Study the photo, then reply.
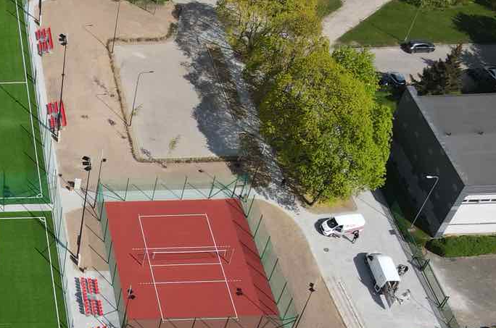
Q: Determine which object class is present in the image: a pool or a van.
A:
van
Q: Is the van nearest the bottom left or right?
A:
right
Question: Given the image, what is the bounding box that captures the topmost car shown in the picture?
[403,42,435,55]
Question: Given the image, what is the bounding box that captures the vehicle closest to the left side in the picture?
[322,214,369,241]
